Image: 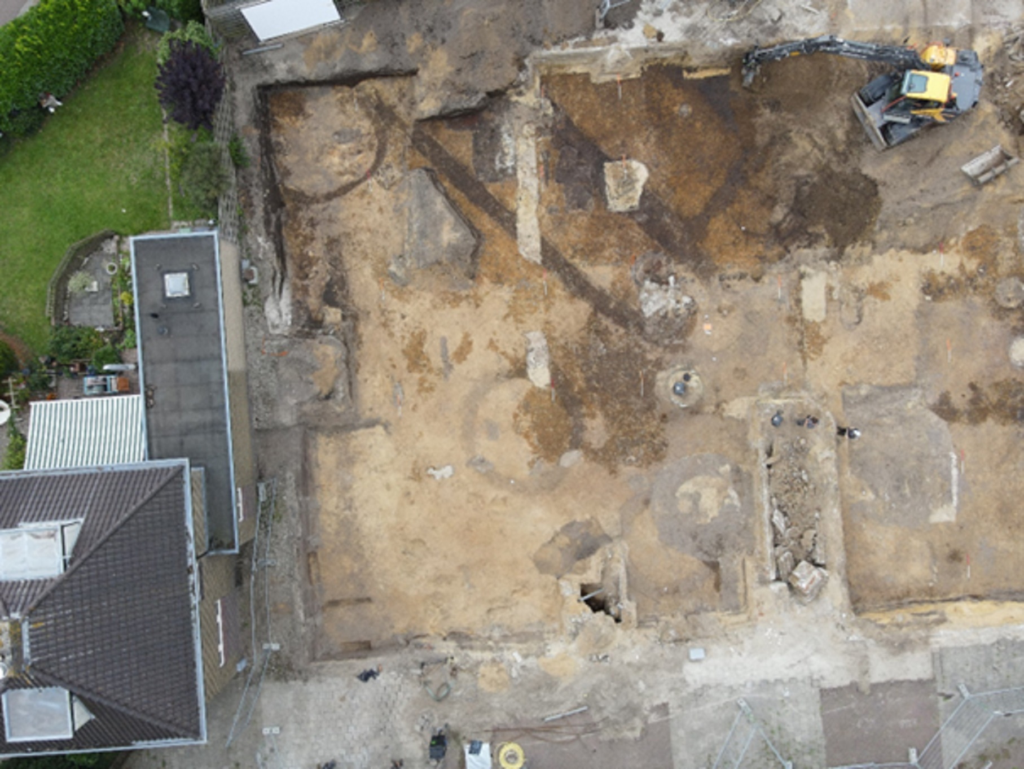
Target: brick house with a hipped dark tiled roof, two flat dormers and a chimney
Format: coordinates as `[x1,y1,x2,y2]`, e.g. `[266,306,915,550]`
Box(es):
[0,454,239,758]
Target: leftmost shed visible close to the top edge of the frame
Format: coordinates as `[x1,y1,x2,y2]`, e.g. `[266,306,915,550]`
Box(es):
[205,0,262,60]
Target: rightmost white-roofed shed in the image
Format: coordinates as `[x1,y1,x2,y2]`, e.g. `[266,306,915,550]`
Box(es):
[245,0,342,45]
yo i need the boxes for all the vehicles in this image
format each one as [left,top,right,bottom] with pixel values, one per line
[744,32,979,159]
